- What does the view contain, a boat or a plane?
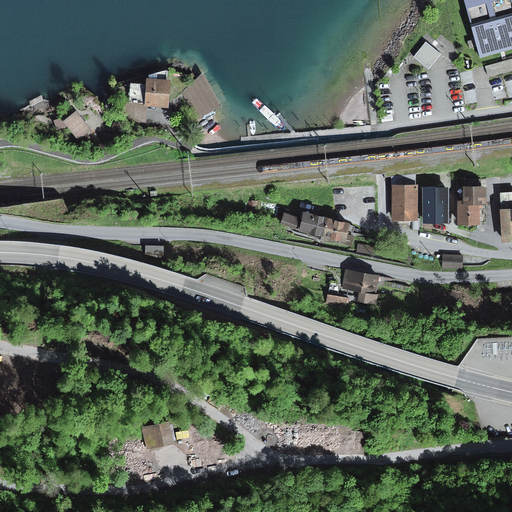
boat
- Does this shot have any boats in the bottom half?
No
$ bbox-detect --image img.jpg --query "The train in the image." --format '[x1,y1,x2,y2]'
[257,138,512,173]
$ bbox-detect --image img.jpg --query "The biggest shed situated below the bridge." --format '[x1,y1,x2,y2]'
[142,423,176,449]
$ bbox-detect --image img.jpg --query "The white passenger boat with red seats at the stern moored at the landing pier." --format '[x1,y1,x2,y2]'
[251,97,285,131]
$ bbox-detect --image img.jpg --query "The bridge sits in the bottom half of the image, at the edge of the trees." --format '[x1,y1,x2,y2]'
[0,241,458,390]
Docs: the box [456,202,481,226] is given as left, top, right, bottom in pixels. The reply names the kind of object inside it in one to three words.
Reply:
house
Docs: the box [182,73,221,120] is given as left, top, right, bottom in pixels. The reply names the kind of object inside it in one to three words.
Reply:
building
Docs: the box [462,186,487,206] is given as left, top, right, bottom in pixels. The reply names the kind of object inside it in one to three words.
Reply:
house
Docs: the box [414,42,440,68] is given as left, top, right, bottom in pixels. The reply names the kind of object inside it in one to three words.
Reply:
building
